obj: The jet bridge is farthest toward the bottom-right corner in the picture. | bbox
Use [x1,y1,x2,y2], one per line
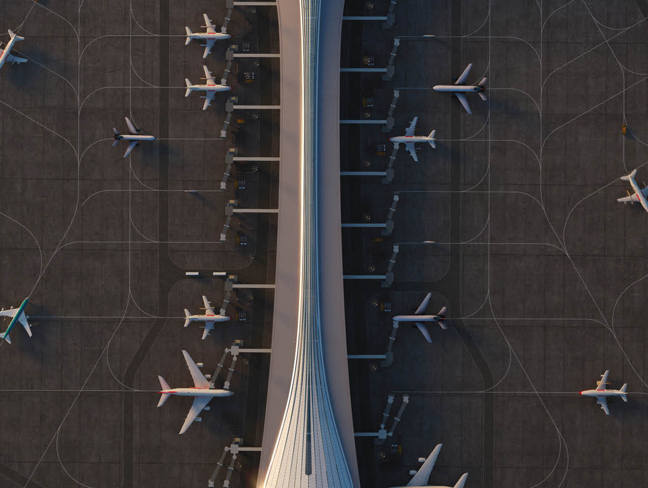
[355,393,408,444]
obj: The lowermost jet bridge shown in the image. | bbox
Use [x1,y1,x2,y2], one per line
[208,435,261,487]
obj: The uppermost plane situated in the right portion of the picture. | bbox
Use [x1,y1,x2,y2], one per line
[433,62,487,115]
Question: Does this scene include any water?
No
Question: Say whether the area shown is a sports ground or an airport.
airport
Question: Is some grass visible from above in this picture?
No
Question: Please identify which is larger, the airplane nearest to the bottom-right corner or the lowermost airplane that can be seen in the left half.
the lowermost airplane that can be seen in the left half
